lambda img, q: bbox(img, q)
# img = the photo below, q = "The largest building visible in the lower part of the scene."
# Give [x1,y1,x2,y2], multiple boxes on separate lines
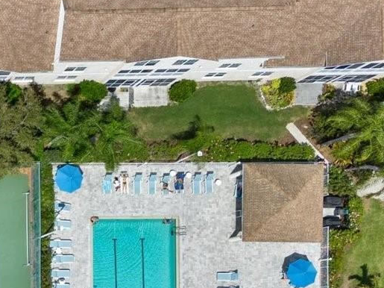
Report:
[226,162,323,244]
